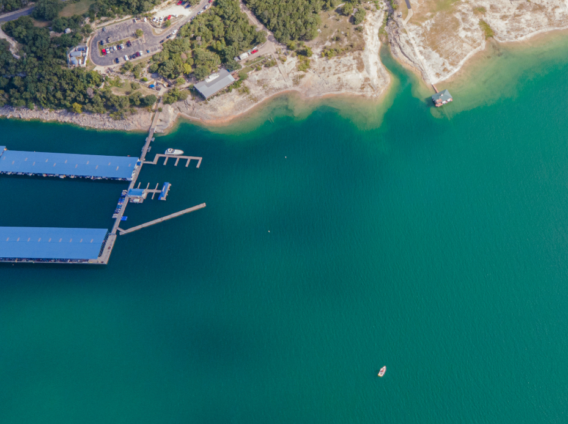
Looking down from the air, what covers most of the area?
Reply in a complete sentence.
For the most part, this view shows water.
